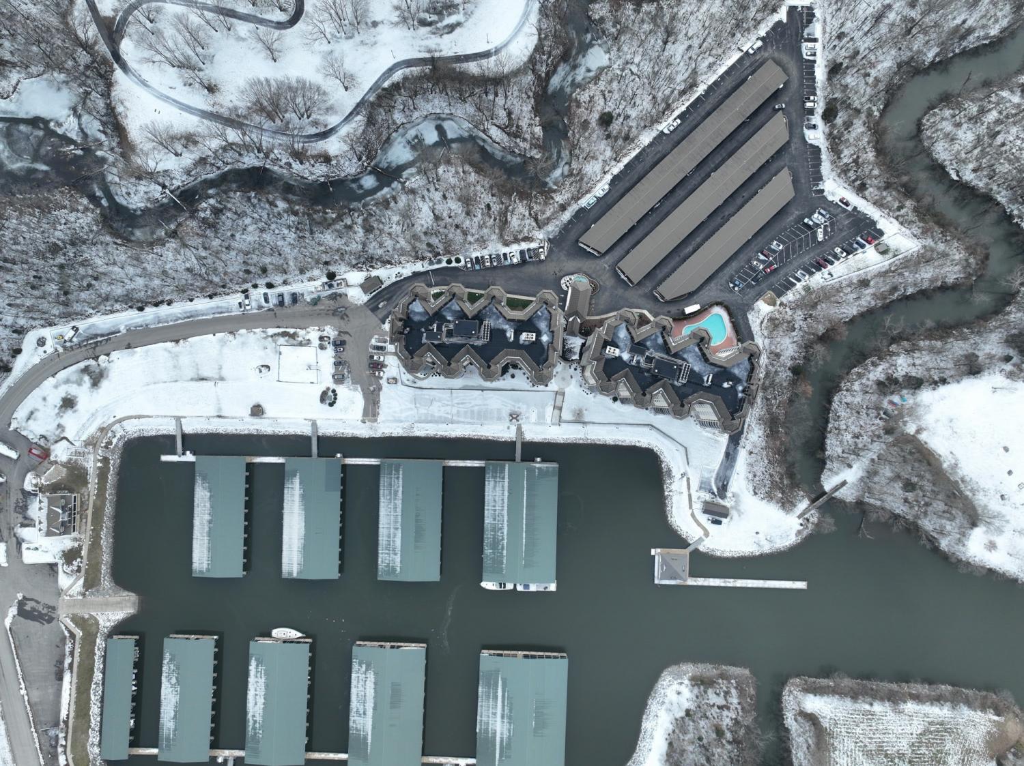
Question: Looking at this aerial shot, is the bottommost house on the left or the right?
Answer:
right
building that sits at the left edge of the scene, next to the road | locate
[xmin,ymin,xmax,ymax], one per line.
[39,494,81,537]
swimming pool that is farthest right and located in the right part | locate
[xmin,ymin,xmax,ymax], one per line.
[671,305,738,354]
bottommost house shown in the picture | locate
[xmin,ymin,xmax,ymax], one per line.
[654,548,689,585]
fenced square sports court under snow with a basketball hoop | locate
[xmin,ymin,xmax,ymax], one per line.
[276,345,318,383]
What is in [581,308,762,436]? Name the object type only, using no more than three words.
building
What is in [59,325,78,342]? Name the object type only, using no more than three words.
vehicle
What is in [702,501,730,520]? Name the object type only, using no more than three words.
building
